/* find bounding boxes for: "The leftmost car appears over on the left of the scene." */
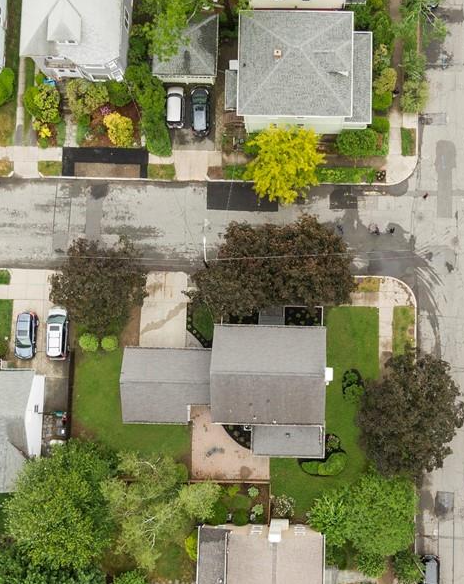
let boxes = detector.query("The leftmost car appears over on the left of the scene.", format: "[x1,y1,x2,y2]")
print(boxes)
[12,310,40,360]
